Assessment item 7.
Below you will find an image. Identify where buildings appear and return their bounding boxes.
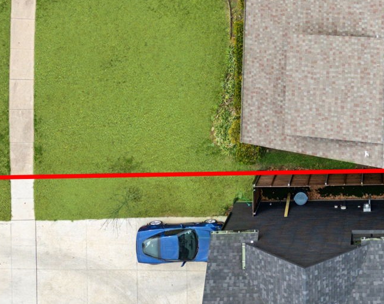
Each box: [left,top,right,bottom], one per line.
[207,197,384,304]
[239,0,384,170]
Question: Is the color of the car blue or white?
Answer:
blue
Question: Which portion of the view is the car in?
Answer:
bottom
